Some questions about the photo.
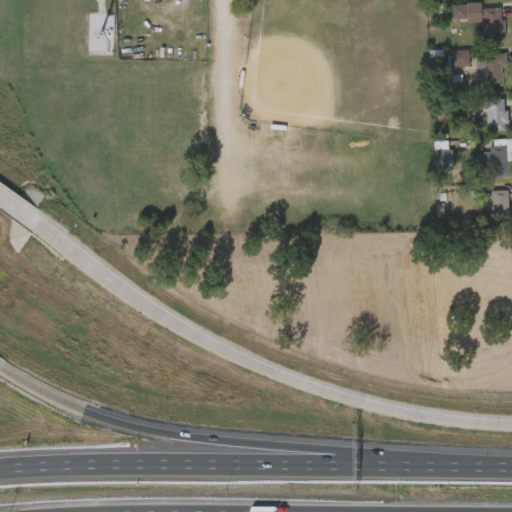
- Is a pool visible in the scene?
No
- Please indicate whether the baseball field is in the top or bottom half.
top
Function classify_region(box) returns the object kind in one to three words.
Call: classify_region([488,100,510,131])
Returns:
house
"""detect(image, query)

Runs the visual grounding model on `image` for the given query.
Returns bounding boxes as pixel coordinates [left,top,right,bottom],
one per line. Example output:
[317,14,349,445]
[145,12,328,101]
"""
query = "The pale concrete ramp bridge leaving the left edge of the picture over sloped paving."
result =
[0,182,94,253]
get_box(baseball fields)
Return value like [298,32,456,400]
[244,0,432,132]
